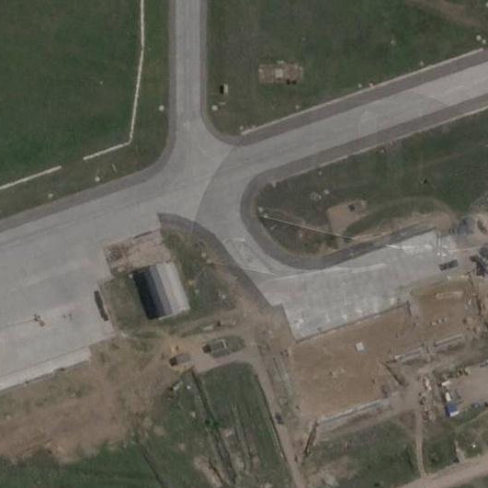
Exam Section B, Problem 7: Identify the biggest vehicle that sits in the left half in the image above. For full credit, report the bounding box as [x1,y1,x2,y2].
[93,291,109,321]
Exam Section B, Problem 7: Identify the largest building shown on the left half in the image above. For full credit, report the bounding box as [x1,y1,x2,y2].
[143,262,190,320]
